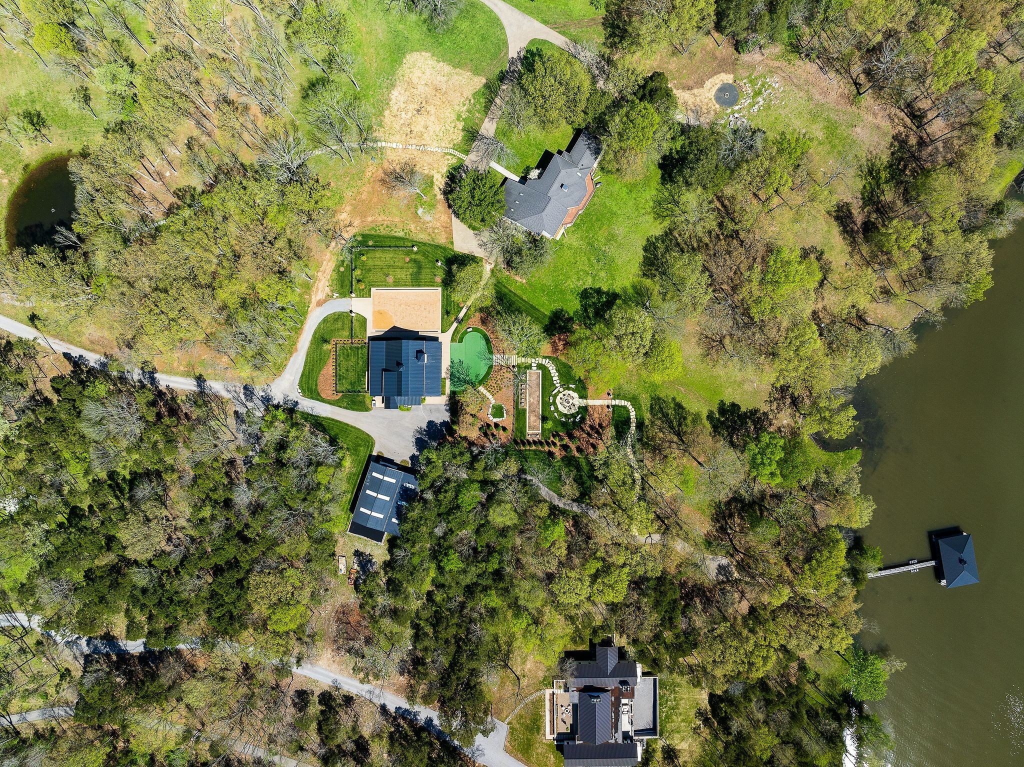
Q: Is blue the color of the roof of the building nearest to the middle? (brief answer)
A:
Yes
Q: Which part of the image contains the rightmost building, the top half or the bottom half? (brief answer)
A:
bottom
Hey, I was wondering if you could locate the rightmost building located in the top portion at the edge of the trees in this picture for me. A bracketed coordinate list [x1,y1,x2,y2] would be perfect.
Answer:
[503,130,604,241]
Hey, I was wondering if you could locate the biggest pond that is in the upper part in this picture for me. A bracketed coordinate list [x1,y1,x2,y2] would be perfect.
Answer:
[9,153,120,252]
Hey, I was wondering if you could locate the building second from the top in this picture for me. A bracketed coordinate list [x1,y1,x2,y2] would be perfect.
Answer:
[369,340,442,409]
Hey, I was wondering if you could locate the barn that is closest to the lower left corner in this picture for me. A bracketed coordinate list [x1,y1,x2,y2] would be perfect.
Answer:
[348,461,418,544]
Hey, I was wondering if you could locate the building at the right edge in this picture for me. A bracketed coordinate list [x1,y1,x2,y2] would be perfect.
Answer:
[933,534,980,588]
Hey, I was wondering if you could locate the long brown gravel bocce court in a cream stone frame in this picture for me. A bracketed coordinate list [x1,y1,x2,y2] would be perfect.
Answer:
[518,371,541,440]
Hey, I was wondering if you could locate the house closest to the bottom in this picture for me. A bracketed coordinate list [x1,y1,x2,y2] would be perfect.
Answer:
[545,631,659,766]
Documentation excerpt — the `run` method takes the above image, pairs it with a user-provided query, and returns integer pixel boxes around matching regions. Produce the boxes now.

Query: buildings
[545,631,659,766]
[369,340,442,409]
[933,534,980,588]
[503,130,604,241]
[348,461,418,544]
